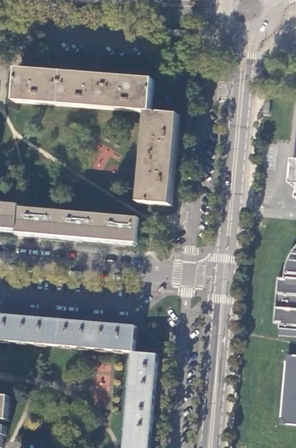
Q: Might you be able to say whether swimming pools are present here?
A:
No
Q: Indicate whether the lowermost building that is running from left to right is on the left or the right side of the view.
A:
left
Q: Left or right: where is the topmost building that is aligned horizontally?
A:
left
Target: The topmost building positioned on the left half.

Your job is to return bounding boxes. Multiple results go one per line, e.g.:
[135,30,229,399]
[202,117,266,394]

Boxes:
[9,66,154,112]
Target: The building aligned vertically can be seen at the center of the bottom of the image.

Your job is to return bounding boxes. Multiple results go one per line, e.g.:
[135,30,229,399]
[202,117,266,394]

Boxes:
[123,352,159,448]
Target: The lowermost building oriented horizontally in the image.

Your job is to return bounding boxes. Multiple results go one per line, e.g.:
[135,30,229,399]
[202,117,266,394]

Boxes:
[0,314,140,356]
